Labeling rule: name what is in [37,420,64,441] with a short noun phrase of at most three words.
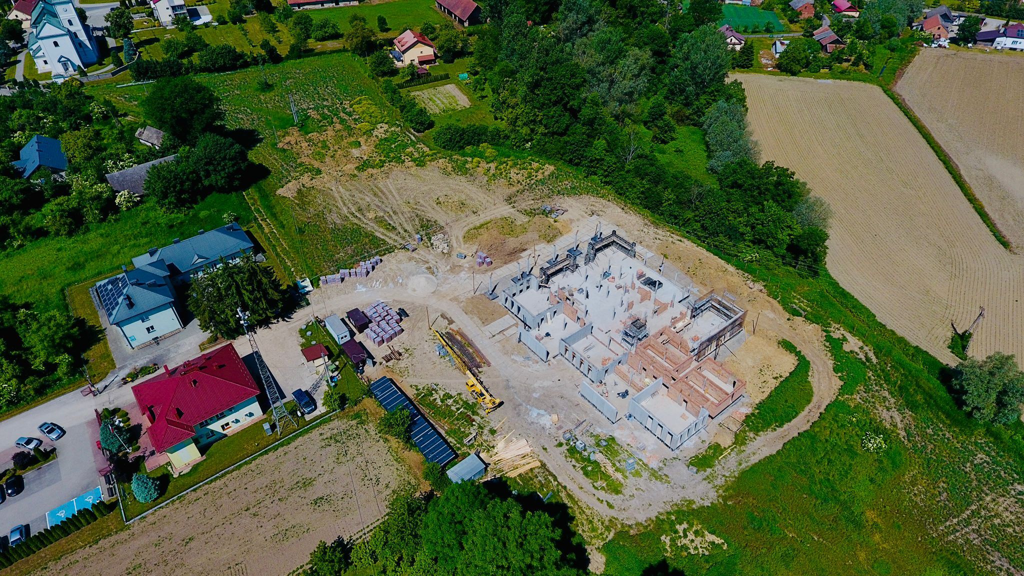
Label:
car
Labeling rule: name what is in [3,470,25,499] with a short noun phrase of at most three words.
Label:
car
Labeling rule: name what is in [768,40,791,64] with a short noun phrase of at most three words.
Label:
house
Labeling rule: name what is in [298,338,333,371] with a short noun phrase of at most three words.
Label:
shed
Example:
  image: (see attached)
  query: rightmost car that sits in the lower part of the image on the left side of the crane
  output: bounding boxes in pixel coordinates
[289,387,317,415]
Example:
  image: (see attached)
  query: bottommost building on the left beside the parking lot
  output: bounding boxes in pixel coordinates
[130,341,265,480]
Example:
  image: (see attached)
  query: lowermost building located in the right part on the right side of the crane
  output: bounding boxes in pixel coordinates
[482,234,748,452]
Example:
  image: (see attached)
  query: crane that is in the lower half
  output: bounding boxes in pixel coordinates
[430,330,508,415]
